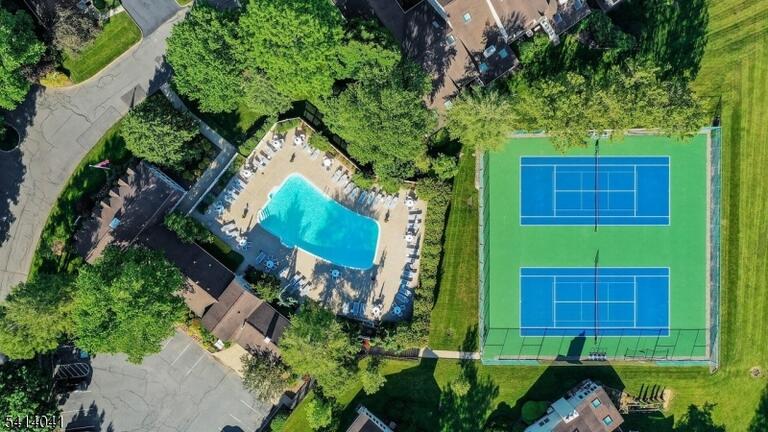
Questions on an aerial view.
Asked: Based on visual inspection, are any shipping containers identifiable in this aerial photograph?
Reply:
No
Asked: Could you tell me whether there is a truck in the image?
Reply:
No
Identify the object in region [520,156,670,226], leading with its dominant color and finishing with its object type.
blue tennis court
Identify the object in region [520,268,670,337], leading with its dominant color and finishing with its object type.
blue tennis court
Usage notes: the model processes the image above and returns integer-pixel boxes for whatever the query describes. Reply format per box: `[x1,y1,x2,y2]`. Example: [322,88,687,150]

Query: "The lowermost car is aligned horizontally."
[58,375,90,391]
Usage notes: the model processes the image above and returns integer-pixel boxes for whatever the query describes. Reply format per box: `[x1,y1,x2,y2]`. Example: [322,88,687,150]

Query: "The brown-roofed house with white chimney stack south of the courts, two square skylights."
[526,382,625,432]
